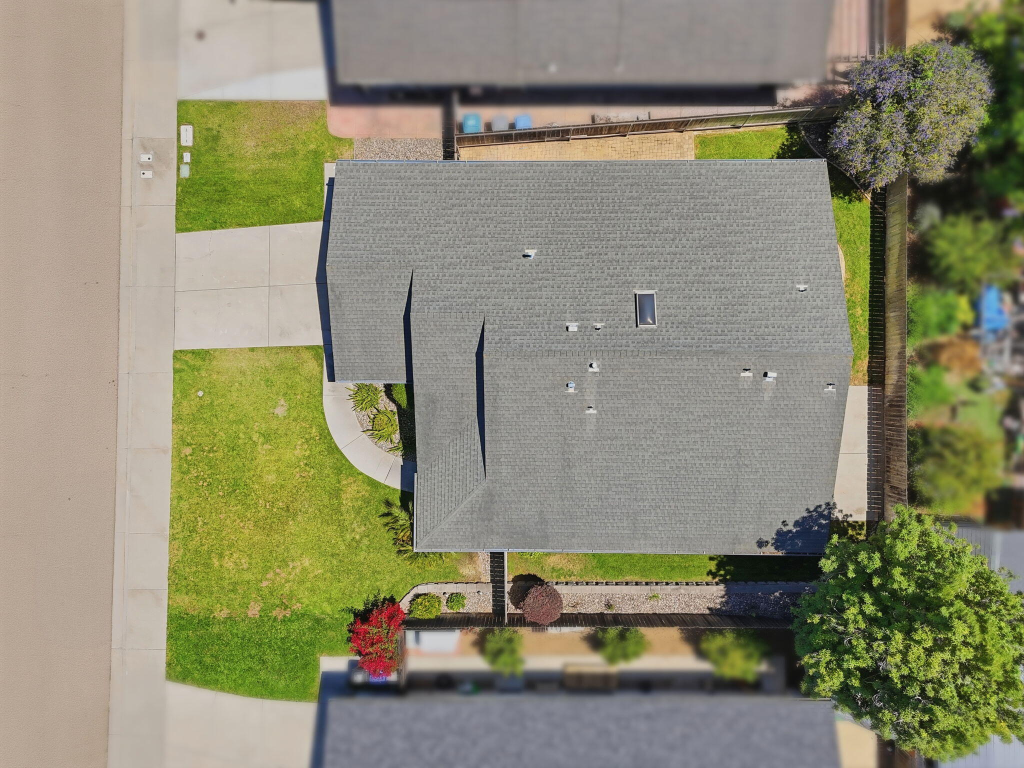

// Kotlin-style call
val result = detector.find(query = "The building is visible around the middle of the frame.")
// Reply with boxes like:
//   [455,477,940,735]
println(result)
[326,157,853,556]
